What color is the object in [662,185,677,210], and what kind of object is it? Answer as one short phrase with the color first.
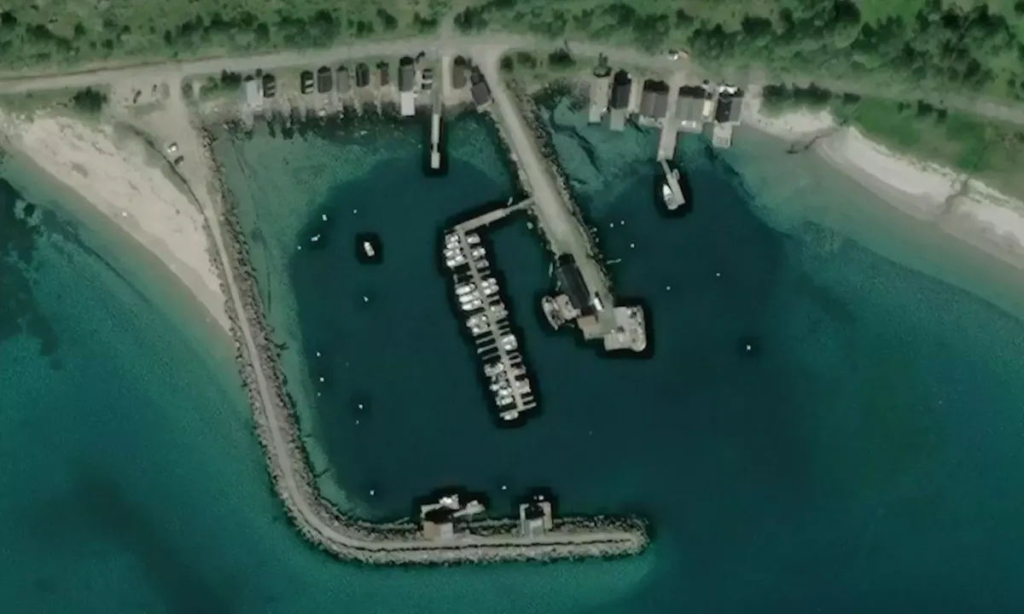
white boat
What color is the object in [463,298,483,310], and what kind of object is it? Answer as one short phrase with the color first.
white boat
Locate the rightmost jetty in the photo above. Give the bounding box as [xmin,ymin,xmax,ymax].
[713,123,741,147]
